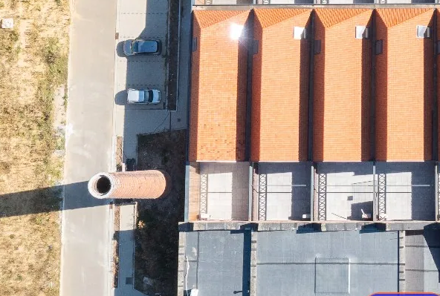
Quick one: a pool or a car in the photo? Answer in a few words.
car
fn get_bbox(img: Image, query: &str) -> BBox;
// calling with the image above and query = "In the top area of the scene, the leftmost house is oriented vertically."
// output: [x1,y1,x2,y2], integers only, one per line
[188,8,253,163]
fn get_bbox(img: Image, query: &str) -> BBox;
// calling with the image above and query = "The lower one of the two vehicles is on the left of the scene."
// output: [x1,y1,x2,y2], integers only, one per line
[128,87,164,105]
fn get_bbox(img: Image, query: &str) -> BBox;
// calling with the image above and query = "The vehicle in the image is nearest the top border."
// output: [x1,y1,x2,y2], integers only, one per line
[125,38,162,56]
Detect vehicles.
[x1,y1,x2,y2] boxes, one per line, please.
[125,38,162,56]
[128,87,164,105]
